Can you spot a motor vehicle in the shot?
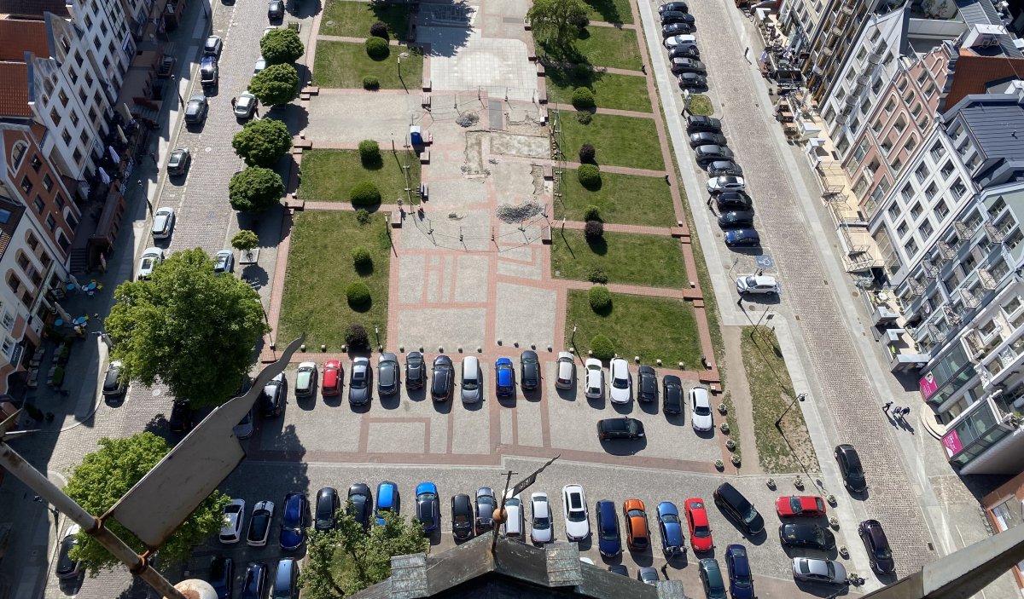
Yes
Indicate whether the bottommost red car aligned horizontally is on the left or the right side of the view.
right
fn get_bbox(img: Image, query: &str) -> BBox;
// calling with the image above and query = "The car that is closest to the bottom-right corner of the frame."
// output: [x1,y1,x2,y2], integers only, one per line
[858,520,896,575]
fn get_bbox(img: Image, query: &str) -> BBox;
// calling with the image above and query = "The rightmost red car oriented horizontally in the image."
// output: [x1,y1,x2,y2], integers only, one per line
[774,493,828,519]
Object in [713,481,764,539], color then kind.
black car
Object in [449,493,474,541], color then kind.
black car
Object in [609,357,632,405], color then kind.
white car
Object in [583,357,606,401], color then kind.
white car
